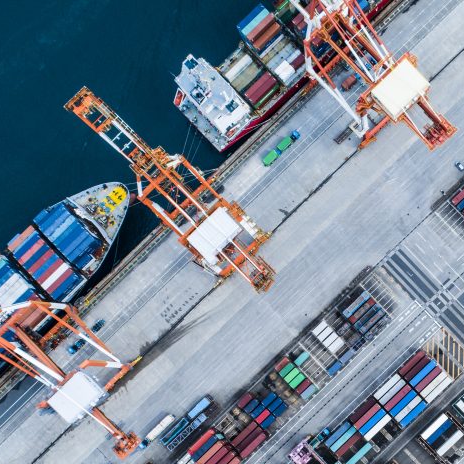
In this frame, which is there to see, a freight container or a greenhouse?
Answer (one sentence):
I can see a freight container in this picture.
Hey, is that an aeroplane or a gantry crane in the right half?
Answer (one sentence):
Visible in the right half is a gantry crane.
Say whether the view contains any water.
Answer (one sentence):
Yes, water shows up in the scene.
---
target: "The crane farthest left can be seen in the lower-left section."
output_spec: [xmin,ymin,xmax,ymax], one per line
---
[0,295,144,455]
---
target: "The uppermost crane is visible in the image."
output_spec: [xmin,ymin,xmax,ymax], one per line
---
[292,0,460,156]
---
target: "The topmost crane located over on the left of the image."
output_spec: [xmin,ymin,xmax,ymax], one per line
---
[70,87,276,299]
